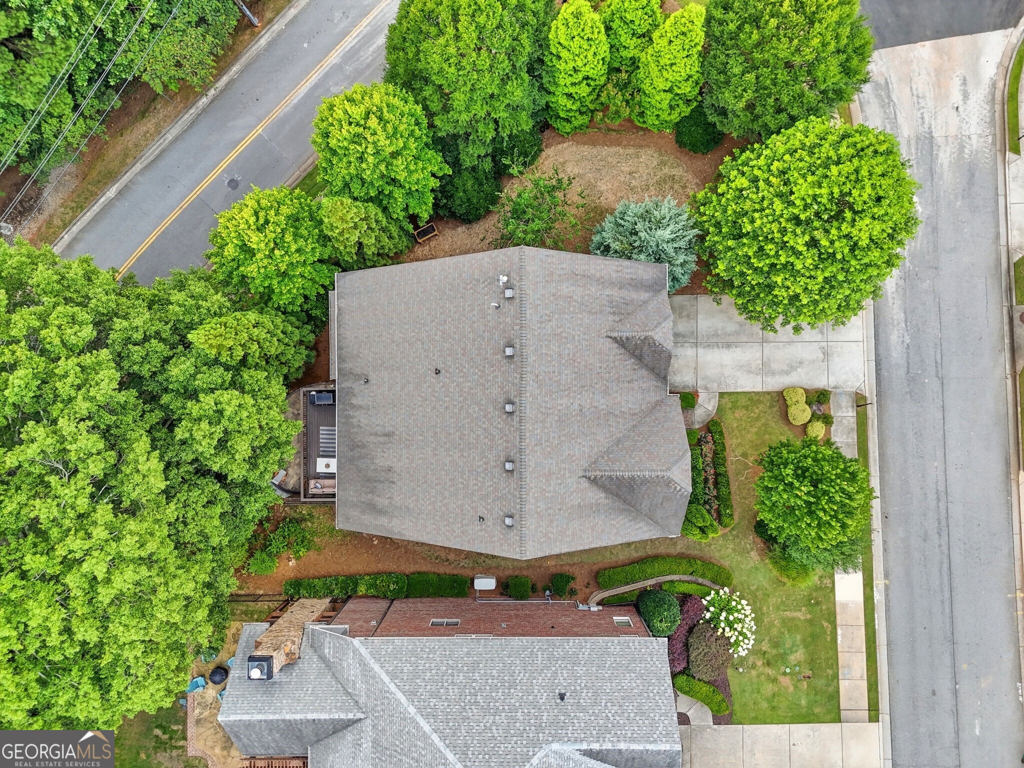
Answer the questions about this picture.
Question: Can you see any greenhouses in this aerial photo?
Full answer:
No, the frame has no greenhouse in it.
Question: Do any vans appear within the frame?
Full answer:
No, I find no van anywhere in the image.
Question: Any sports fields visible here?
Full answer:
No, I can't see a single sports field in this photo.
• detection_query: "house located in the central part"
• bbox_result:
[327,247,693,559]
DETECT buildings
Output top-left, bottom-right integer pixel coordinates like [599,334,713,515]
[217,590,683,768]
[327,247,693,559]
